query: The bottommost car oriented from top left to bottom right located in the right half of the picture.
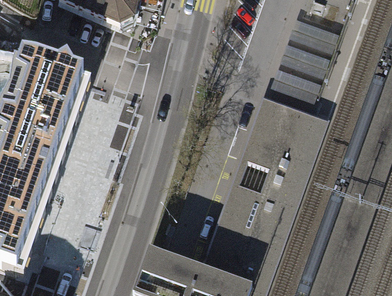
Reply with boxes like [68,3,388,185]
[230,19,250,38]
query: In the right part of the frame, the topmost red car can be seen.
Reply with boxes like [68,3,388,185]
[236,6,256,26]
